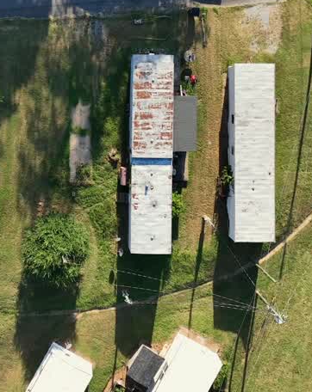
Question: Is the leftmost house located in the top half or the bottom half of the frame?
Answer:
bottom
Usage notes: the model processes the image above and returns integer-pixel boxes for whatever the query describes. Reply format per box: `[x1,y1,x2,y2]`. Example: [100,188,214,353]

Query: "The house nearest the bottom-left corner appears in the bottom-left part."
[24,333,95,392]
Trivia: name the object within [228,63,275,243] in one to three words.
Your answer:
house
